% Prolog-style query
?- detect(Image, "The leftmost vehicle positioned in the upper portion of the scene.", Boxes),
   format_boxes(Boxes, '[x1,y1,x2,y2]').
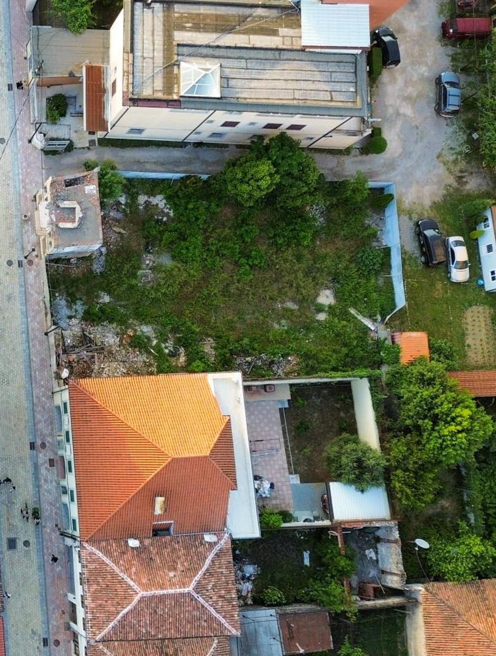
[378,26,403,65]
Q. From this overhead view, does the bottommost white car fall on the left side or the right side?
right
